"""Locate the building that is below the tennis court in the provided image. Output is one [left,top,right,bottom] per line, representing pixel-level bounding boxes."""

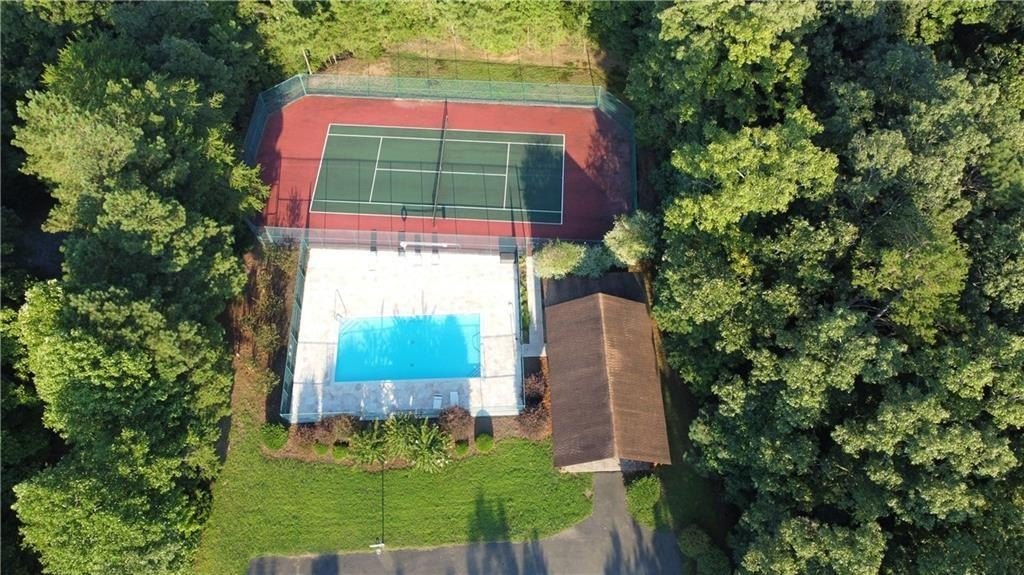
[544,293,673,472]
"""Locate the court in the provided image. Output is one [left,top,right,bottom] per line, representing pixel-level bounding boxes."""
[245,90,639,258]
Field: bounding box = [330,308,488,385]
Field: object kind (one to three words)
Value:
swimming pool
